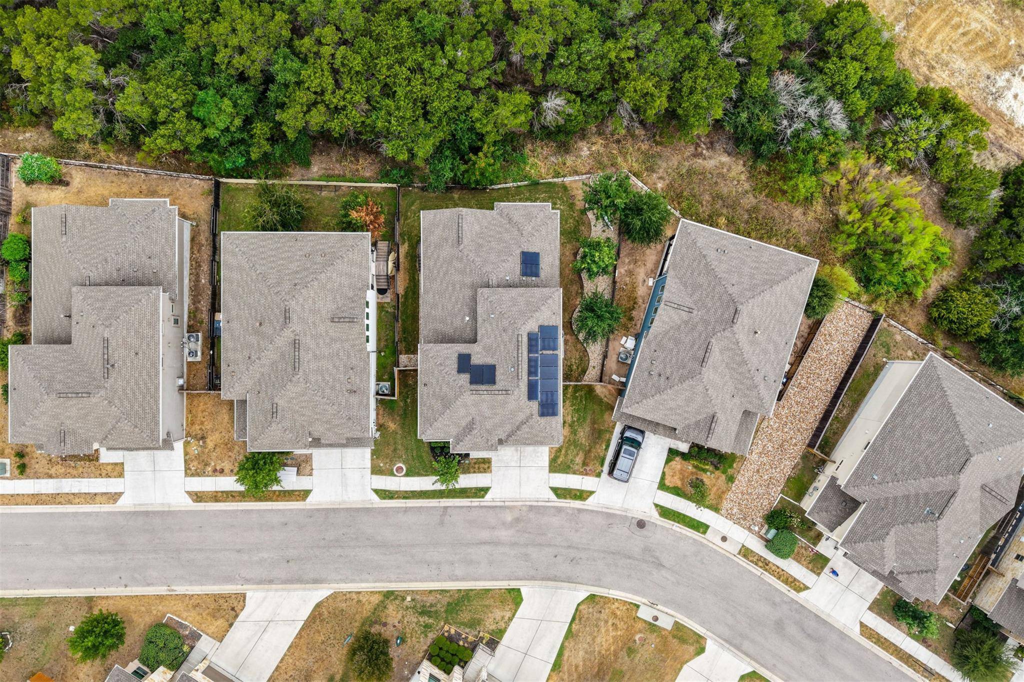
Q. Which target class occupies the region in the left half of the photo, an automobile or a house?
house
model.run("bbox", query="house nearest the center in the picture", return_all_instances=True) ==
[416,201,563,455]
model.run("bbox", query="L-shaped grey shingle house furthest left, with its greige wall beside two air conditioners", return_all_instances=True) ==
[7,197,194,456]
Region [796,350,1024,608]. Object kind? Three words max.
house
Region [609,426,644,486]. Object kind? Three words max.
car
